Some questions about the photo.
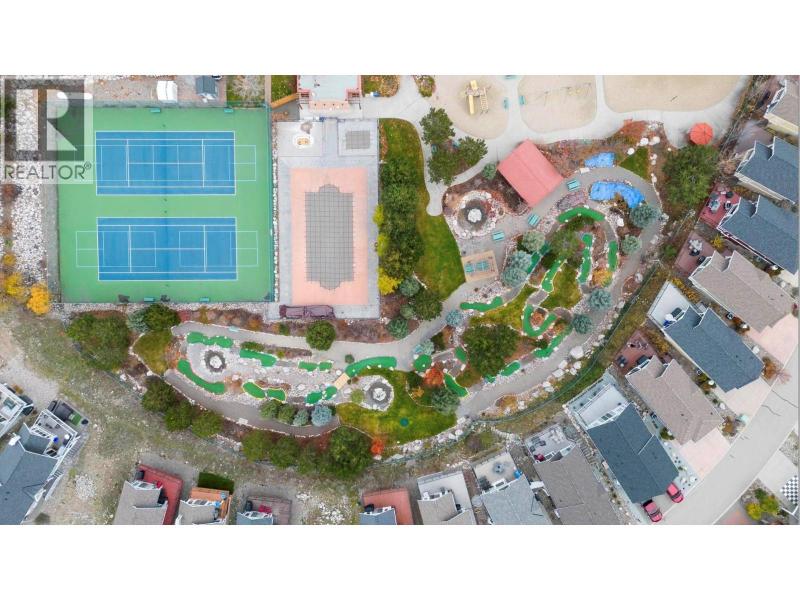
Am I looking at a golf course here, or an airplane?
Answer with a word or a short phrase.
golf course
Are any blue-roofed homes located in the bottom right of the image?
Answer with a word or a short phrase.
Yes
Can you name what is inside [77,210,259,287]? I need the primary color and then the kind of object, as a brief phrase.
blue tennis court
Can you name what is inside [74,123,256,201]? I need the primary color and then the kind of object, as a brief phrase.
blue tennis court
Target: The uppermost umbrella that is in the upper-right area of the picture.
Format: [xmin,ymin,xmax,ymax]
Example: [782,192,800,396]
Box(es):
[691,123,713,145]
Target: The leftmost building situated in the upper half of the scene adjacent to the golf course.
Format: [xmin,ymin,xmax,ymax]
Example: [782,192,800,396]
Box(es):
[495,138,564,209]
